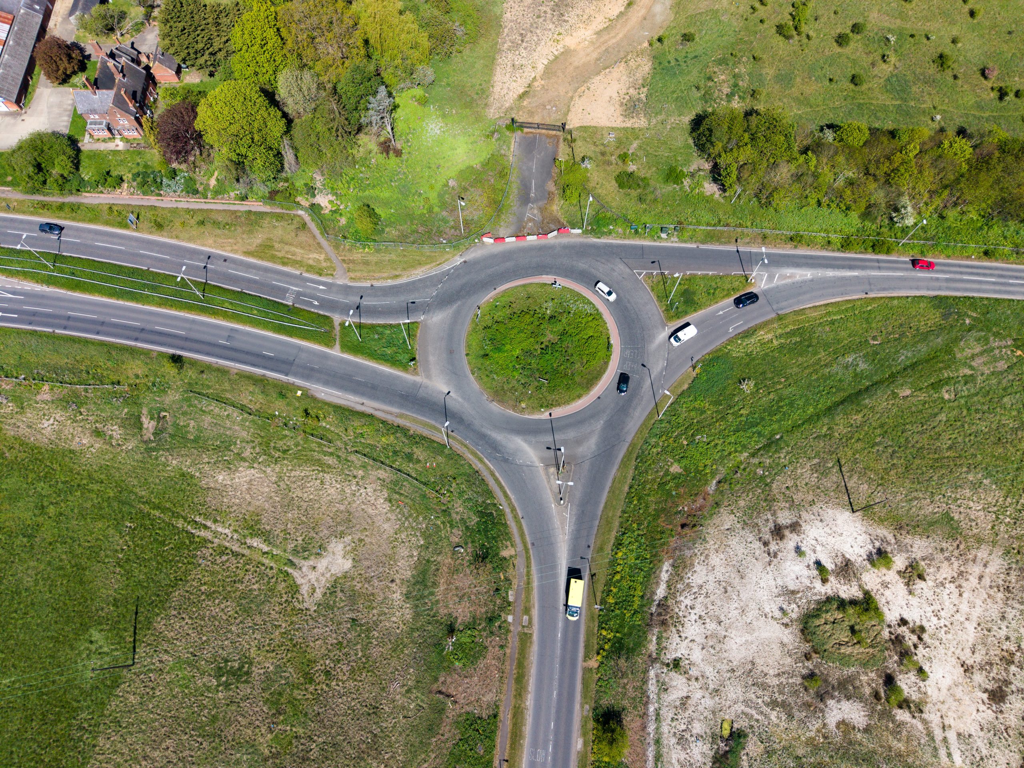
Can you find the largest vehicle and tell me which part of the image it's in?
bottom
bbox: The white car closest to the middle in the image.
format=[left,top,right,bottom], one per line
[594,281,617,303]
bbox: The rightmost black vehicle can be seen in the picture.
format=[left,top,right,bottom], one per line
[733,292,760,311]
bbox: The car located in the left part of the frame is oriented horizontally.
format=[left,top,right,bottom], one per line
[37,223,64,236]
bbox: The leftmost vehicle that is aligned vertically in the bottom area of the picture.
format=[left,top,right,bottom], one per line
[563,578,584,622]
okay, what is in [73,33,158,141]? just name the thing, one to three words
house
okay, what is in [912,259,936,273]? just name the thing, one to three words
car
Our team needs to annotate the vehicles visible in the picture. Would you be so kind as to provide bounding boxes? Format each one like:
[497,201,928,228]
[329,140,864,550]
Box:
[617,372,630,397]
[669,324,699,347]
[563,578,584,622]
[733,292,760,311]
[594,281,617,303]
[37,223,64,236]
[912,259,936,273]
